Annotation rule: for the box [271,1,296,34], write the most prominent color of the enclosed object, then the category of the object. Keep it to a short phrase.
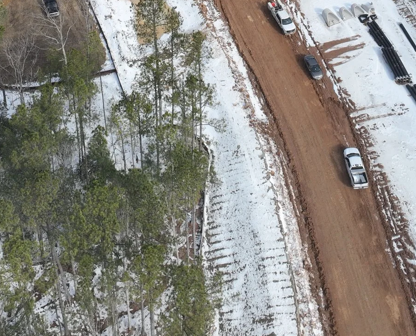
white truck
